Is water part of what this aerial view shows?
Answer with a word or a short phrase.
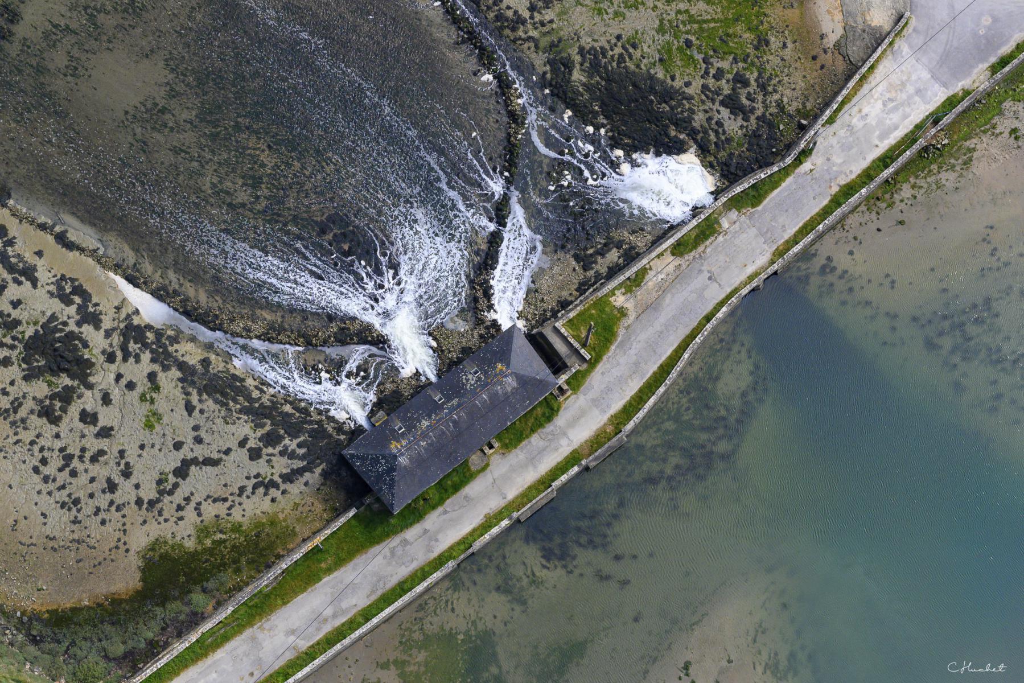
Yes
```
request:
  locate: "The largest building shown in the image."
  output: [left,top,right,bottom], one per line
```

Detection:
[341,325,558,514]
